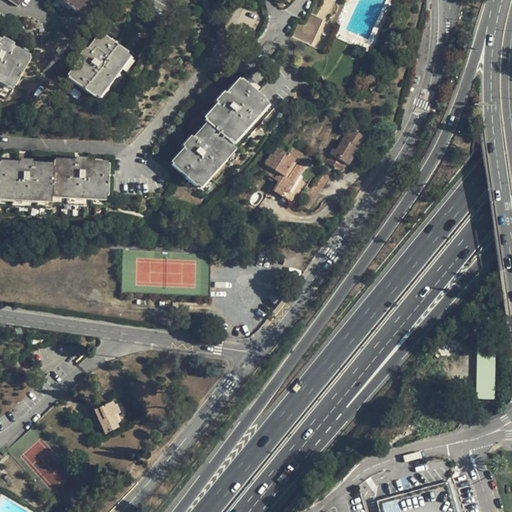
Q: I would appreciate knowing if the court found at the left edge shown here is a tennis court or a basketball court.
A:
tennis court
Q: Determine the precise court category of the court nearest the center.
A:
tennis court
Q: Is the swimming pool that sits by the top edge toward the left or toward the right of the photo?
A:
right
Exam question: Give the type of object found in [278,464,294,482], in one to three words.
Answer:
vehicle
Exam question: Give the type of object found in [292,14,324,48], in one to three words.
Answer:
building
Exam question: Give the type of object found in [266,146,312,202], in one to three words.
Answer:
house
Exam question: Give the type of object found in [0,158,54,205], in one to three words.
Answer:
building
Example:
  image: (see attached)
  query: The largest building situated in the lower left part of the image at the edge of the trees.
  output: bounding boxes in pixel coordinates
[94,401,122,434]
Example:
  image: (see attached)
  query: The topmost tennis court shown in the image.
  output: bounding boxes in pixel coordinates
[121,248,210,297]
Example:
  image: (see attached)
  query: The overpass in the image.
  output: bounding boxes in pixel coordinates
[474,0,512,365]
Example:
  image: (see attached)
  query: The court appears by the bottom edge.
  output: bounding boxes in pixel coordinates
[8,426,92,510]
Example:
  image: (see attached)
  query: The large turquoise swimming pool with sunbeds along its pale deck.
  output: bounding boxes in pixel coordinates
[336,0,386,48]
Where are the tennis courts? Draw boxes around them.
[121,248,210,297]
[8,426,92,510]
